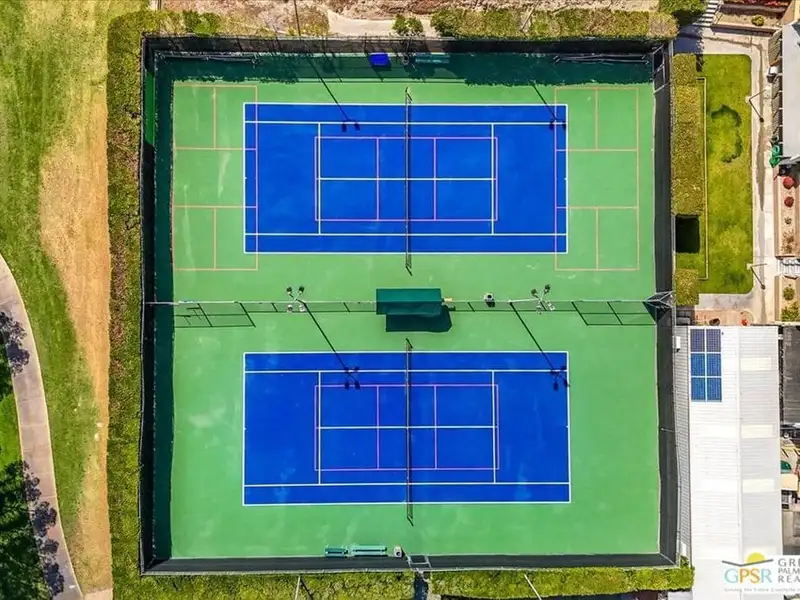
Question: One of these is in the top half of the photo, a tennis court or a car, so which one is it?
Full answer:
You can see a tennis court in the top half of the photo.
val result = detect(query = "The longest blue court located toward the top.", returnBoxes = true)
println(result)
[244,103,568,253]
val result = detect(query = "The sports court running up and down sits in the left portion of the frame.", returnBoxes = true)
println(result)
[171,84,258,270]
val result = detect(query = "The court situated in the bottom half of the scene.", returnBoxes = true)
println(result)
[243,352,570,505]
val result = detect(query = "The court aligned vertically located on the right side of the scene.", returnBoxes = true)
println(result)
[555,87,639,270]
